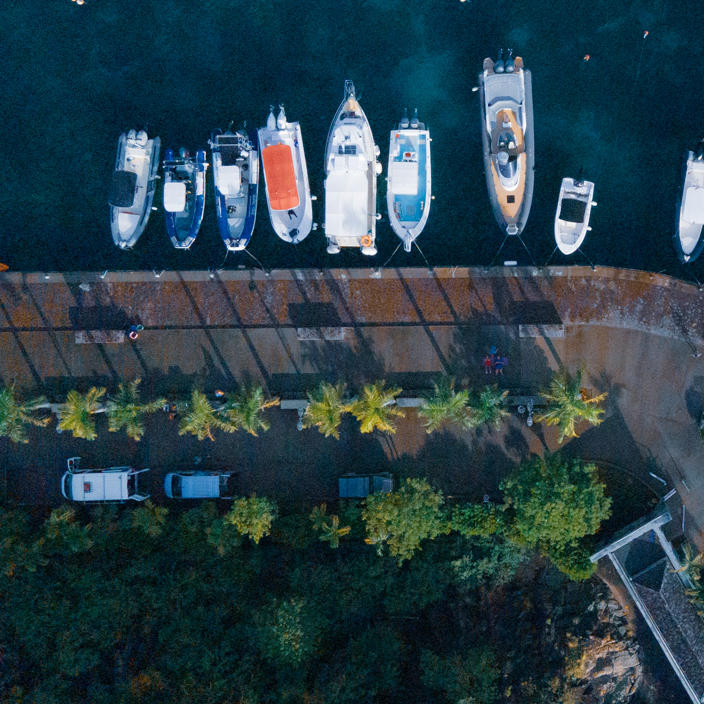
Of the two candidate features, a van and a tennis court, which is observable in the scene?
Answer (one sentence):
Looking from above, you can make out a van.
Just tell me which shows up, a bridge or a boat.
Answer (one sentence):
Looking from above, you can make out a boat.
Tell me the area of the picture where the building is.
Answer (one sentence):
The building appears toward the bottom right of the photo.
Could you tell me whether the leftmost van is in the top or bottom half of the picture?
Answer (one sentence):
It is in the bottom half that the leftmost van appears.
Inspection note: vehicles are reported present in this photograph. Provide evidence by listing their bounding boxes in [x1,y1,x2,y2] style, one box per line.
[339,472,394,499]
[62,452,154,504]
[165,470,239,500]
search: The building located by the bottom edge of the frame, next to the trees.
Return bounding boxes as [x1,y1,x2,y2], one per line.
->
[590,503,704,704]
